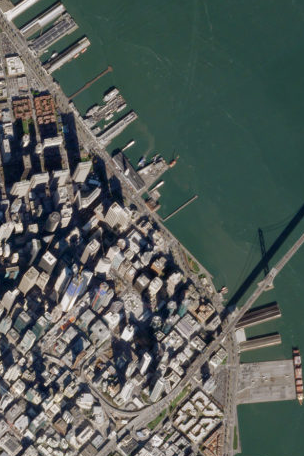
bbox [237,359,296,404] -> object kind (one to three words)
pier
